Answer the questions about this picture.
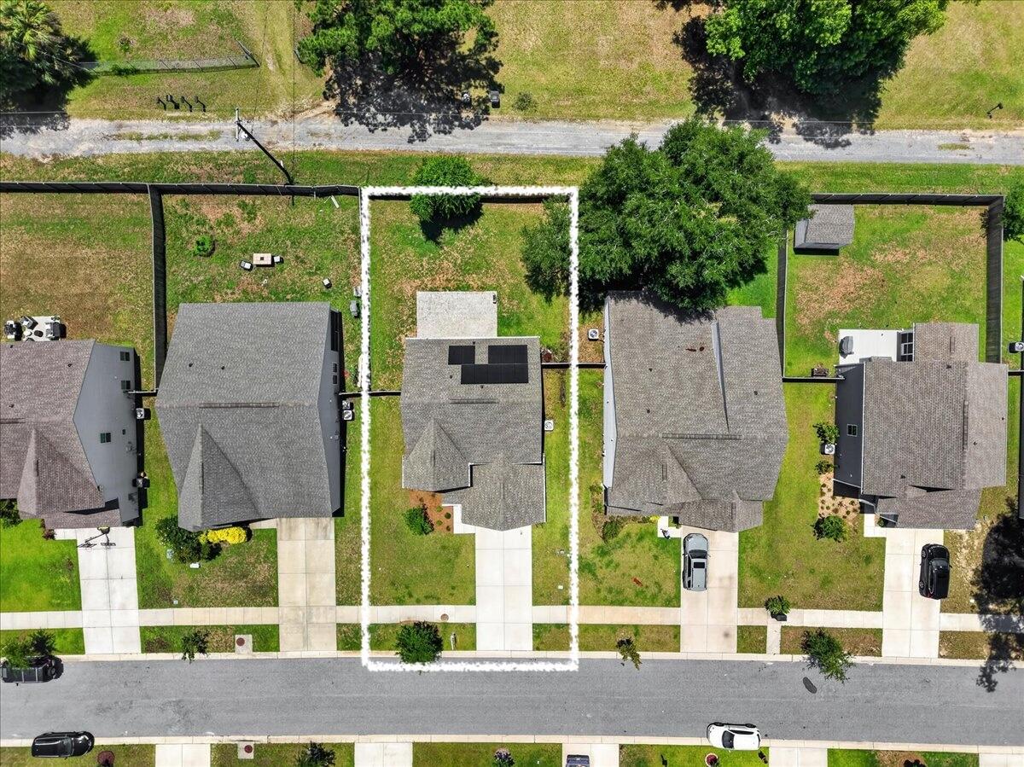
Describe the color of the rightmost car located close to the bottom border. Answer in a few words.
white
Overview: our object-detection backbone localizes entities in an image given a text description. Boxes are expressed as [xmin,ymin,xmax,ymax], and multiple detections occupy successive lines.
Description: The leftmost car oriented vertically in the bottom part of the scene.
[682,533,709,589]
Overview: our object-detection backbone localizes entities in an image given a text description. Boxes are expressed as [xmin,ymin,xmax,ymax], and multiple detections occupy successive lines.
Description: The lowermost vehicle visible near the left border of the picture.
[33,730,92,762]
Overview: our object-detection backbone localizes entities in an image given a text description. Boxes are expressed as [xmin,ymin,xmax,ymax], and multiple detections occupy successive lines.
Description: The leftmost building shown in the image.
[0,343,138,527]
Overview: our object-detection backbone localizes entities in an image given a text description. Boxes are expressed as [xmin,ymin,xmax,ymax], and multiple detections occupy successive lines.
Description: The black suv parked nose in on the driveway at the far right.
[919,544,951,597]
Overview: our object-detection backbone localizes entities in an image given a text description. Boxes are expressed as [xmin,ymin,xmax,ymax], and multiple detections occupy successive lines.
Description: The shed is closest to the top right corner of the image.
[797,204,858,250]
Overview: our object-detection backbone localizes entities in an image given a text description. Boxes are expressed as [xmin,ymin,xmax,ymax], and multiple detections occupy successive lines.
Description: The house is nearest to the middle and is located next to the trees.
[401,337,546,526]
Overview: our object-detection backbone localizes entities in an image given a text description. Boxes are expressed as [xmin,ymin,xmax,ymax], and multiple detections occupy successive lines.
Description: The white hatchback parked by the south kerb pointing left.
[707,723,759,752]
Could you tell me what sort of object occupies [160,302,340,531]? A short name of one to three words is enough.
house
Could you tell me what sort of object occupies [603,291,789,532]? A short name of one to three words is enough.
house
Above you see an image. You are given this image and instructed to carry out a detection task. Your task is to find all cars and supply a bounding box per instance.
[919,544,951,597]
[33,730,92,762]
[707,723,759,752]
[682,533,709,589]
[0,656,54,686]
